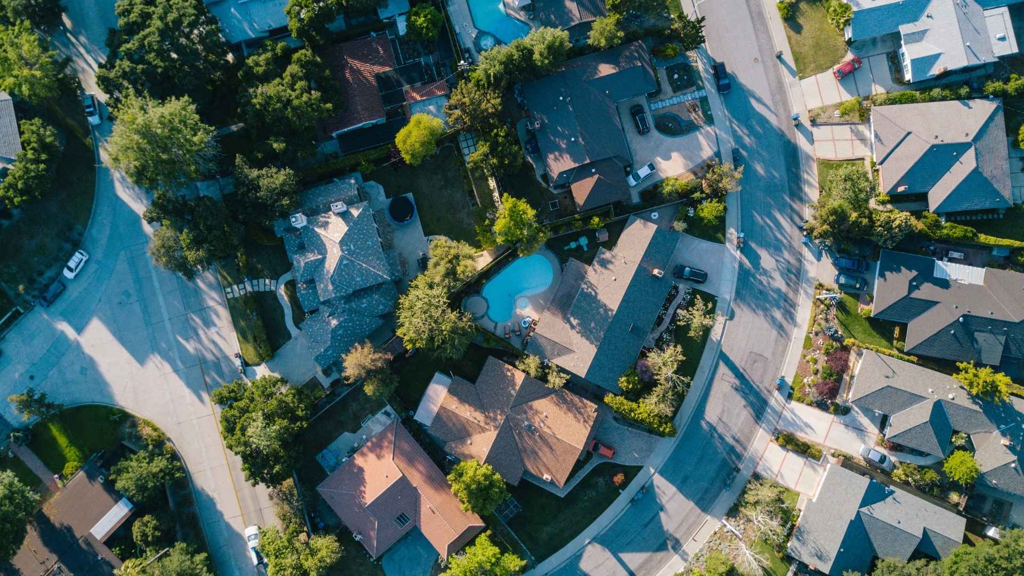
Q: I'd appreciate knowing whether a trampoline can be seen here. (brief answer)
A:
Yes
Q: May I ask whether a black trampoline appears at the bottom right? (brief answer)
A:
No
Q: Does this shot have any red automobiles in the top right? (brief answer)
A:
Yes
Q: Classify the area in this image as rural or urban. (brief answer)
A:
urban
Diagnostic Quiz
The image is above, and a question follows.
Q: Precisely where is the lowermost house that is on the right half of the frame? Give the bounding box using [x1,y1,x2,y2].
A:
[786,463,967,576]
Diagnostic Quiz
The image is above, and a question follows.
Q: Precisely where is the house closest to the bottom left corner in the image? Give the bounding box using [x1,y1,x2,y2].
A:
[12,468,139,576]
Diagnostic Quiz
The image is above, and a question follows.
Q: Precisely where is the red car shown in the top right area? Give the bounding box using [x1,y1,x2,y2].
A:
[829,55,863,81]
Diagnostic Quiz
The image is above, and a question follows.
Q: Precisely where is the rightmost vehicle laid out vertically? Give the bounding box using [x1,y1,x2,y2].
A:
[711,58,732,98]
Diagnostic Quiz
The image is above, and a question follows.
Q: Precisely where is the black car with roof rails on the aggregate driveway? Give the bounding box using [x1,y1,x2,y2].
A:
[631,102,650,137]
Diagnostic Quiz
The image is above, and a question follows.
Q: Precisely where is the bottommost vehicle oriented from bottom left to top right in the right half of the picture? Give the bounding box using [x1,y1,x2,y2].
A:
[627,161,658,187]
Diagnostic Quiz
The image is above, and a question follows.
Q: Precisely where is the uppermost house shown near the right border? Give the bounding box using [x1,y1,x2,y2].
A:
[843,0,1024,84]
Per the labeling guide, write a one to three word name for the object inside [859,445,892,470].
car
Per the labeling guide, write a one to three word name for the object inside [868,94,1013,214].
house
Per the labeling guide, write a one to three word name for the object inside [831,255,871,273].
vehicle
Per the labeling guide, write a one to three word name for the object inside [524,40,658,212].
house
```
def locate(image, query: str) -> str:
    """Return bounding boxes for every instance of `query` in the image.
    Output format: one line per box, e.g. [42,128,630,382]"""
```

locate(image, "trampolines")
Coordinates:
[388,196,415,223]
